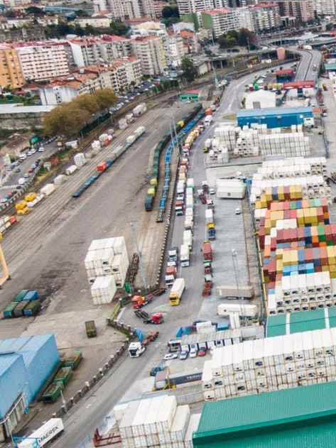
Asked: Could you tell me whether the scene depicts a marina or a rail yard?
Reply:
rail yard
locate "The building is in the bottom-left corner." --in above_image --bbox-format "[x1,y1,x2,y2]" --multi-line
[0,331,58,444]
